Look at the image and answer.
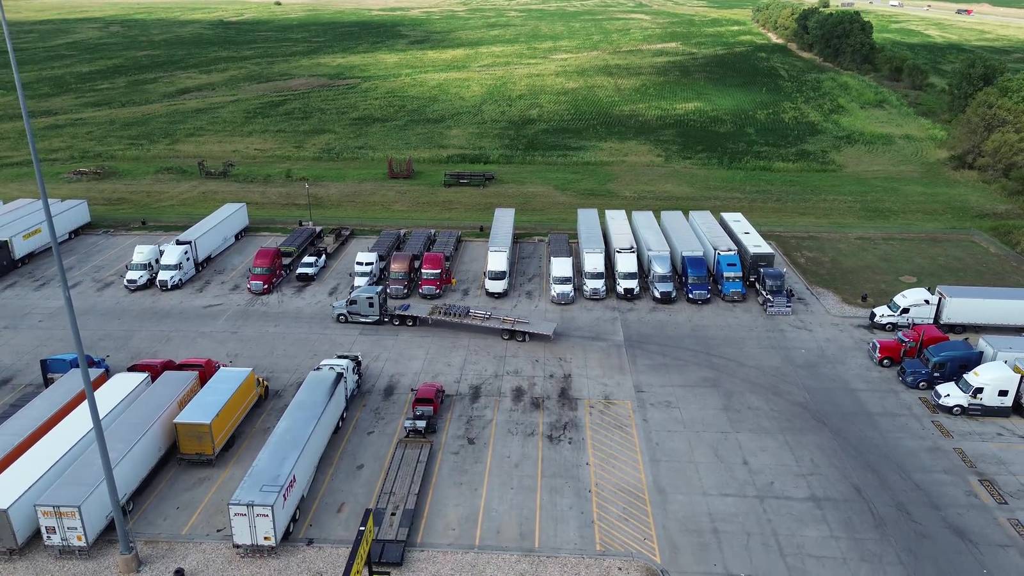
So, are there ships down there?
No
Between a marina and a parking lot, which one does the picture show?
parking lot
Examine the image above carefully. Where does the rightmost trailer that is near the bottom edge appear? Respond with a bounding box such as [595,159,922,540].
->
[363,412,433,567]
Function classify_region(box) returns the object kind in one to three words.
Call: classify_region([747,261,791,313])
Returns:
truck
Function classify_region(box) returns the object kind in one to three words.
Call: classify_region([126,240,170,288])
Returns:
truck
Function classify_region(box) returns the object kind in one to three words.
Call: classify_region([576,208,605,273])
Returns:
trailer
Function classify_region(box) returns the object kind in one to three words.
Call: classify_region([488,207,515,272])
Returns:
trailer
